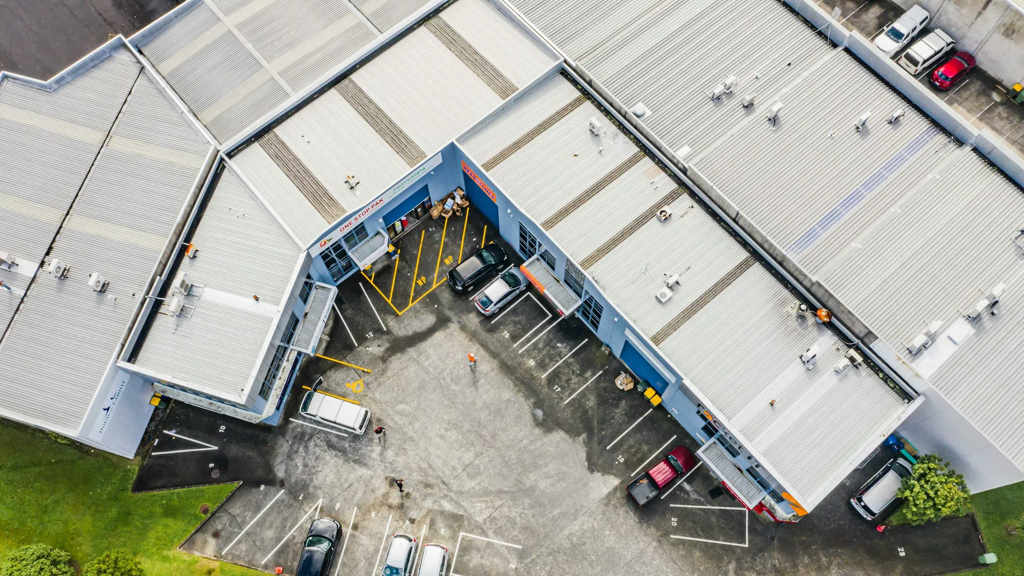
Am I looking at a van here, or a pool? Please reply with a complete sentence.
Looking from above, you can make out a van.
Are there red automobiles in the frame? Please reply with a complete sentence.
Yes, a red automobile can be made out from above.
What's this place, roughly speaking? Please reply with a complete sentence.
This image shows an industrial area.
